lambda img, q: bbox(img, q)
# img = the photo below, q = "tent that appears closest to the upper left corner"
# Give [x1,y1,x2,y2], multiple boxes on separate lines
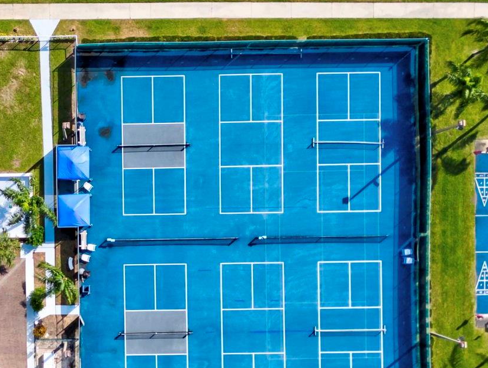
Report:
[59,147,90,182]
